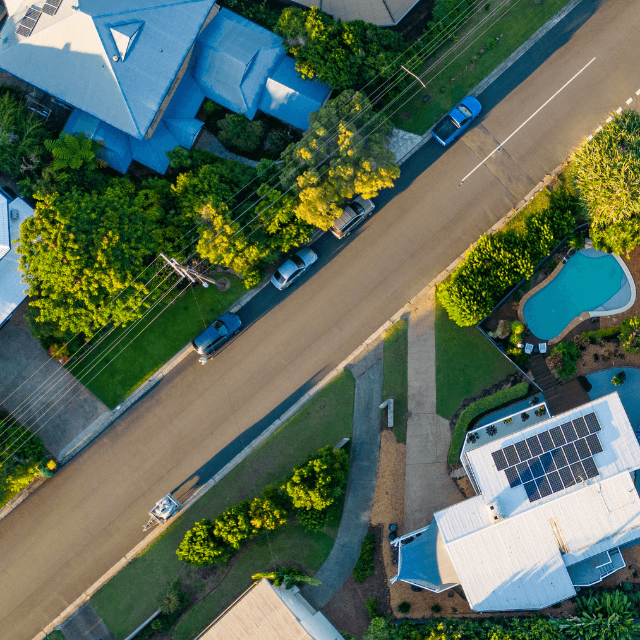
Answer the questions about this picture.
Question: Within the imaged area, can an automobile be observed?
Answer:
Yes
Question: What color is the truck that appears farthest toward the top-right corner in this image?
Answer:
blue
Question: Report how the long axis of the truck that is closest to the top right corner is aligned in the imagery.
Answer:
on a diagonal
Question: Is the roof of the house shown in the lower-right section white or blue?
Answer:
white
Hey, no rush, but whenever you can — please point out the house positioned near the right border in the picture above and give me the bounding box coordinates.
[392,390,640,613]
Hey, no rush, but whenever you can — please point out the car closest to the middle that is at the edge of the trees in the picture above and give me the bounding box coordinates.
[264,242,325,296]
